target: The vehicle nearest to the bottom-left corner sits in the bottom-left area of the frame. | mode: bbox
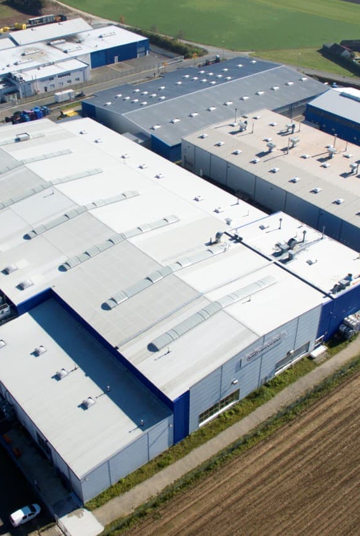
[5,500,45,528]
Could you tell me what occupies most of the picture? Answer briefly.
buildings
